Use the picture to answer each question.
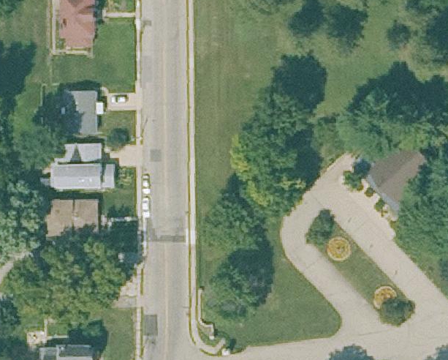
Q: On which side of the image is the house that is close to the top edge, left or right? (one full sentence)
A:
You can find the house that is close to the top edge on the left side of the picture.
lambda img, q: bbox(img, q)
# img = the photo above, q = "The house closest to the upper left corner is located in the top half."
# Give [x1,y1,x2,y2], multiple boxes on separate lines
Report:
[51,0,96,51]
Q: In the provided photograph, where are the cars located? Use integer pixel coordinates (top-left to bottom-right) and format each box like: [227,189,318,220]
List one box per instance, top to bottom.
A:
[109,94,128,104]
[142,176,151,195]
[142,198,150,217]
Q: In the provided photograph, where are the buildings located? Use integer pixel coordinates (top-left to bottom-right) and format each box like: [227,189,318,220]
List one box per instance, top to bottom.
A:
[51,0,96,51]
[62,90,104,135]
[50,143,115,190]
[366,152,430,215]
[46,199,98,237]
[39,345,93,360]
